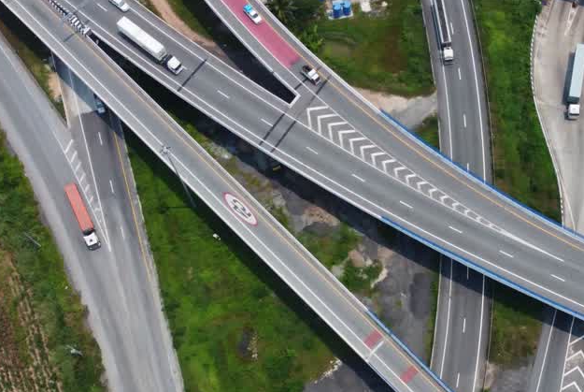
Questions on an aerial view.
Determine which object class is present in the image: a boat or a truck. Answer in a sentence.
Looking from above, you can make out a truck.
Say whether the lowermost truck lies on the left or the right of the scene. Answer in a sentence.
The lowermost truck sits on the left side.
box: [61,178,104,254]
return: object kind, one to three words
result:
truck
